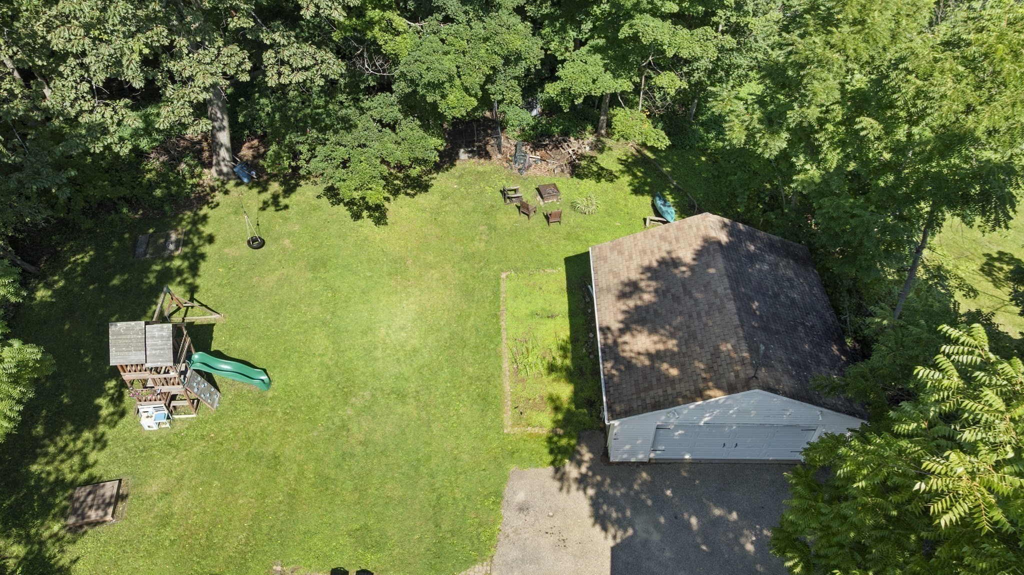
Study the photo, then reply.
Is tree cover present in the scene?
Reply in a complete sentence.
Yes, tree cover can be seen from above here.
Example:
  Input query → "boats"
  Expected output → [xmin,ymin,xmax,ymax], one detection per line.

[655,191,675,223]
